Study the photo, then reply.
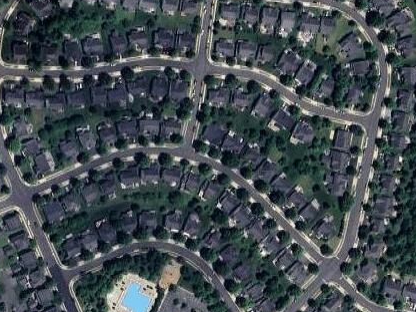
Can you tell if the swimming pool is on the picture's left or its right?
left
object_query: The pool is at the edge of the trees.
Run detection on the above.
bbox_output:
[107,273,157,312]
